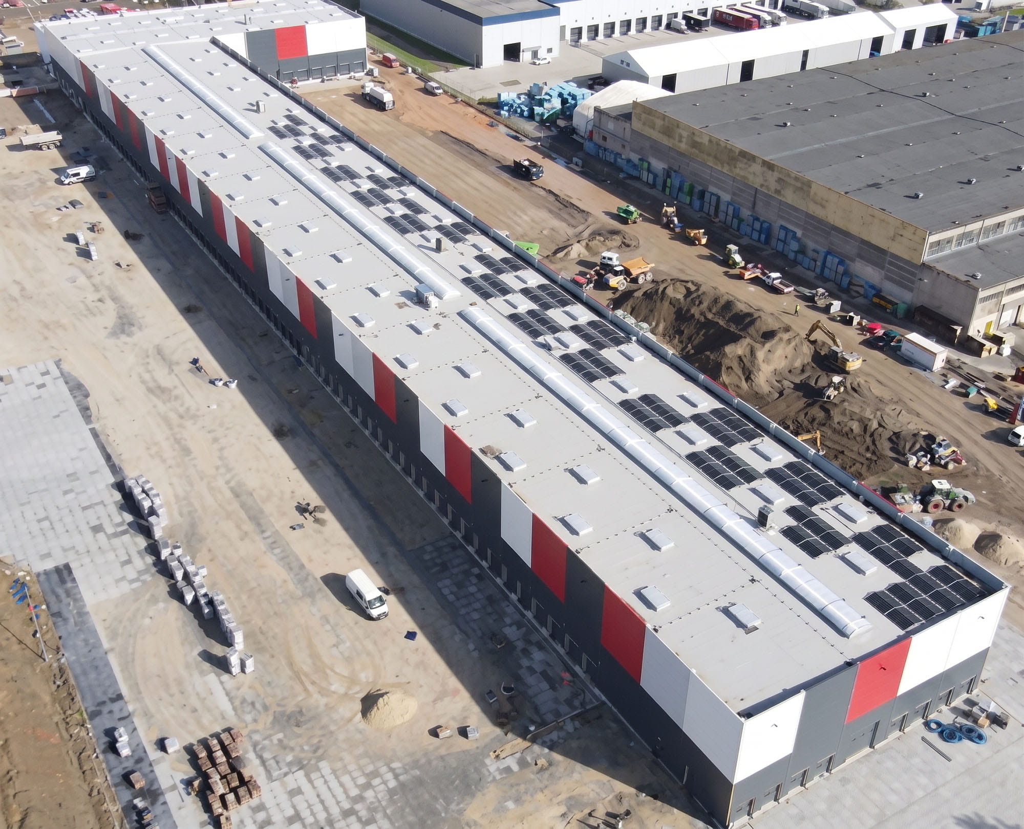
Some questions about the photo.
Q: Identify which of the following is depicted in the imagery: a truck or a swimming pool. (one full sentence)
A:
Of the two, only a truck appears.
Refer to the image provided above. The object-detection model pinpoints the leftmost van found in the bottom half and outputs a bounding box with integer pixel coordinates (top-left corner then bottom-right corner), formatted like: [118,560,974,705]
[345,564,390,619]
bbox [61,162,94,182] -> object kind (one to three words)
vehicle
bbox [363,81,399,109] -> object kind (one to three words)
truck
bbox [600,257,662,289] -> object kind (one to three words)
truck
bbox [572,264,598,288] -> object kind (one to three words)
work vehicle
